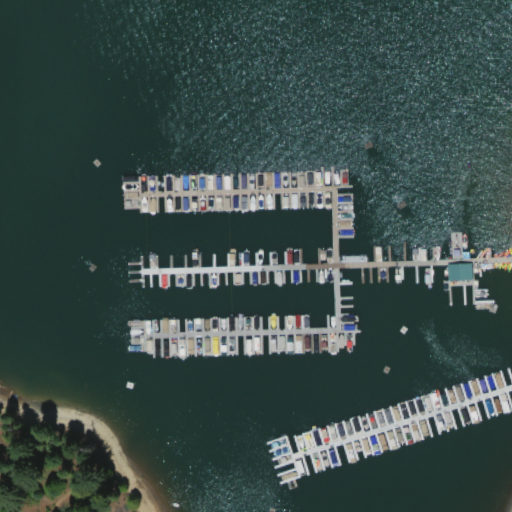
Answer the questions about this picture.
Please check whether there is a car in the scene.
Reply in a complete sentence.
No, I find no car anywhere in the image.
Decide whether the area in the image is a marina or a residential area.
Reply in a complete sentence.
It's a marina.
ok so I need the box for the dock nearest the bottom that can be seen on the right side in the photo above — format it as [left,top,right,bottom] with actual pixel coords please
[266,369,512,484]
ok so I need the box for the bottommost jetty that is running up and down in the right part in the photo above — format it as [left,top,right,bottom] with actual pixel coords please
[334,268,358,328]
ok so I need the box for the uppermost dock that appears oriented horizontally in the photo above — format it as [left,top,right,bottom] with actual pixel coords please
[124,166,354,213]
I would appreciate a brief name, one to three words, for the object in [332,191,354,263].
pier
